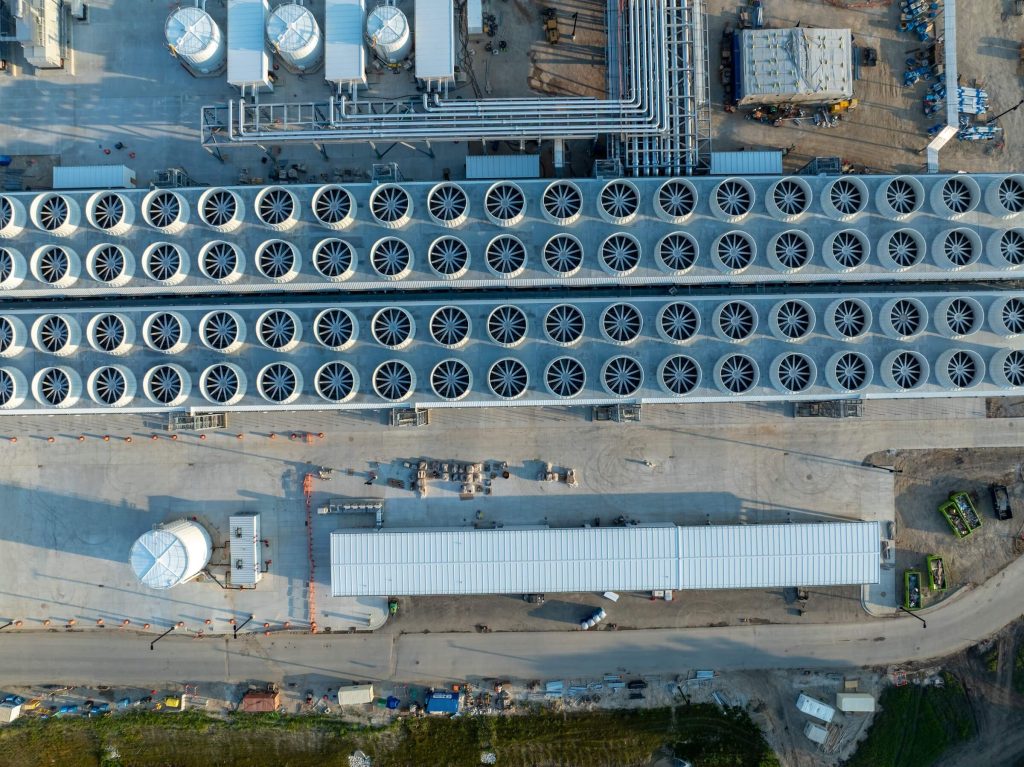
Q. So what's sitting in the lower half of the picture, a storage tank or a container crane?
storage tank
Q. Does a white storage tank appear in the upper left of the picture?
Yes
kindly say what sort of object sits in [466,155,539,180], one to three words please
shed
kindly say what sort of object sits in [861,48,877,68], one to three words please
work vehicle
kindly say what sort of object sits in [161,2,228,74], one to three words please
storage tank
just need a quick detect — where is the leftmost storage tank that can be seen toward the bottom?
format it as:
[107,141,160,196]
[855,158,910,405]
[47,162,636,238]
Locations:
[128,517,215,590]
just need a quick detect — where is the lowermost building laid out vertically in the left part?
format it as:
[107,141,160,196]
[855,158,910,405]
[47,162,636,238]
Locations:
[230,513,263,585]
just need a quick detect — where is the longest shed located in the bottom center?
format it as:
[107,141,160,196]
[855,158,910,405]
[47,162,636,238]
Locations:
[330,519,881,597]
